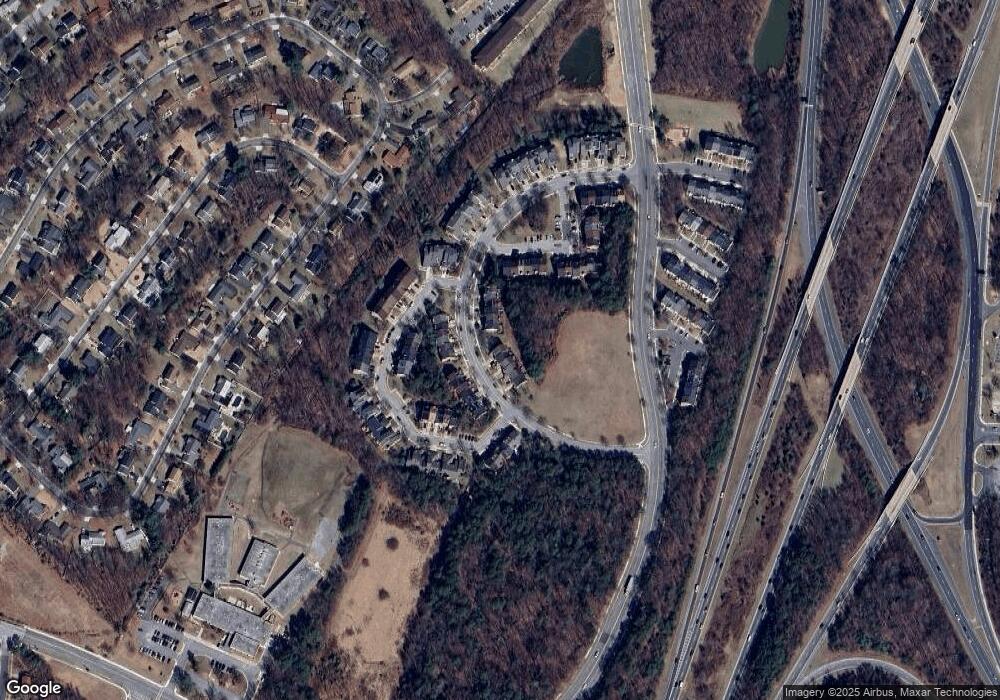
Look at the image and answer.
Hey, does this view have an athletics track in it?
No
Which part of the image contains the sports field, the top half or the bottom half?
bottom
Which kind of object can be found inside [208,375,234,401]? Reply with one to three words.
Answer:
house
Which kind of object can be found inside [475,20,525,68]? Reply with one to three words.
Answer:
building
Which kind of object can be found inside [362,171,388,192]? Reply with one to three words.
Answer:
house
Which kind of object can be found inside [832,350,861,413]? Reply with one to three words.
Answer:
overpass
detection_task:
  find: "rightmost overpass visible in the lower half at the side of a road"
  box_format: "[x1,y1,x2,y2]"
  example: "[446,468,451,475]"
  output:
[882,465,917,525]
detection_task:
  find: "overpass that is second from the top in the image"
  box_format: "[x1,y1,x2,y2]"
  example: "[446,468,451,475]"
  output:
[929,98,960,168]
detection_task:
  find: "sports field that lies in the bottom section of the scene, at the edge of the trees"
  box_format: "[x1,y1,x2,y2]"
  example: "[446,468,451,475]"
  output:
[262,428,346,519]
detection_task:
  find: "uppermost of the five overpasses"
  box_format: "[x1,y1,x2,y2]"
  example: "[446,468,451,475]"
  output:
[892,5,928,78]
